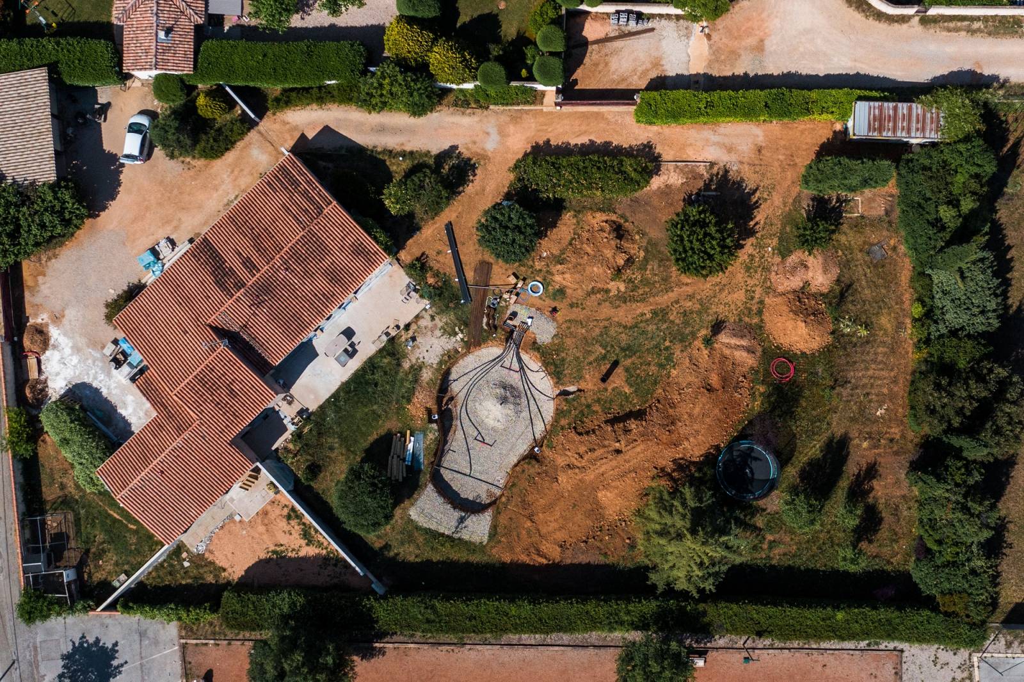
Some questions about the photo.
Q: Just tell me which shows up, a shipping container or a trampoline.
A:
trampoline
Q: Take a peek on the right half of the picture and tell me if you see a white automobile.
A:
No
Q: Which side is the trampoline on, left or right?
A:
right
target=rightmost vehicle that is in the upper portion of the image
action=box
[120,113,154,164]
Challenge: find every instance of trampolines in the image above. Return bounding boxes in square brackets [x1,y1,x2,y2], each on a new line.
[717,440,784,503]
